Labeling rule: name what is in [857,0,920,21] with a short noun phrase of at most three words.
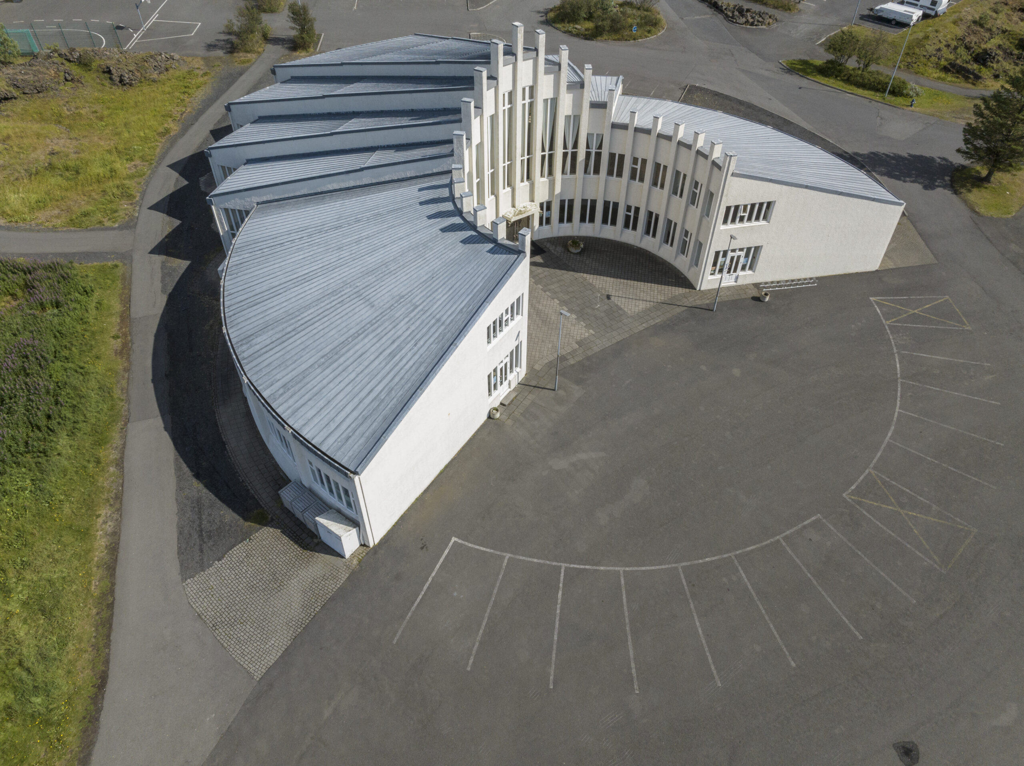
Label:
trailer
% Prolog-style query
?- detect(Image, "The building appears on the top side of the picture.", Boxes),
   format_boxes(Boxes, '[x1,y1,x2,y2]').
[206,21,907,545]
